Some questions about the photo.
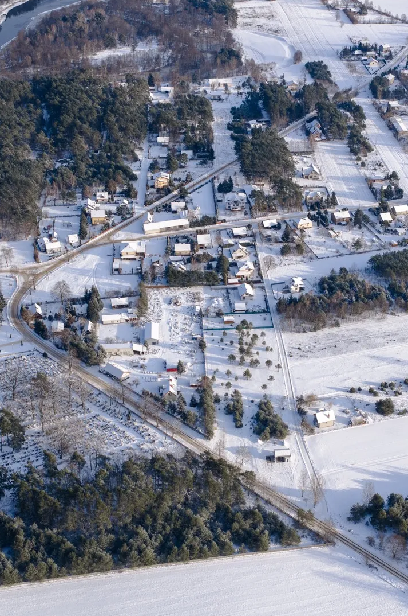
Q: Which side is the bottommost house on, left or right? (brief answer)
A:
right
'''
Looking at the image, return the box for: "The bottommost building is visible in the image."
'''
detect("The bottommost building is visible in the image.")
[258,444,292,464]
